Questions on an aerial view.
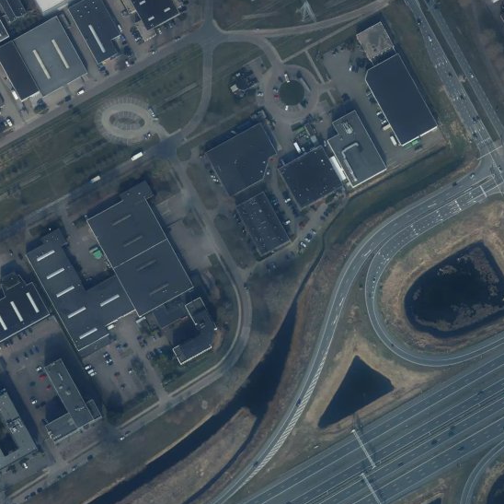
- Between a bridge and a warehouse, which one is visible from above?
warehouse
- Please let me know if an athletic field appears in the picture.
No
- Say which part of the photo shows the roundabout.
top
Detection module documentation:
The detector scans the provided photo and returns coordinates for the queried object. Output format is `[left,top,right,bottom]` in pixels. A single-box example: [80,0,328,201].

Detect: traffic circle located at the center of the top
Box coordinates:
[264,63,320,119]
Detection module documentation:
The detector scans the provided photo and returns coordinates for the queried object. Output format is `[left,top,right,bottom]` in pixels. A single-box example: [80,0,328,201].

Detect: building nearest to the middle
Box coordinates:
[236,192,291,258]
